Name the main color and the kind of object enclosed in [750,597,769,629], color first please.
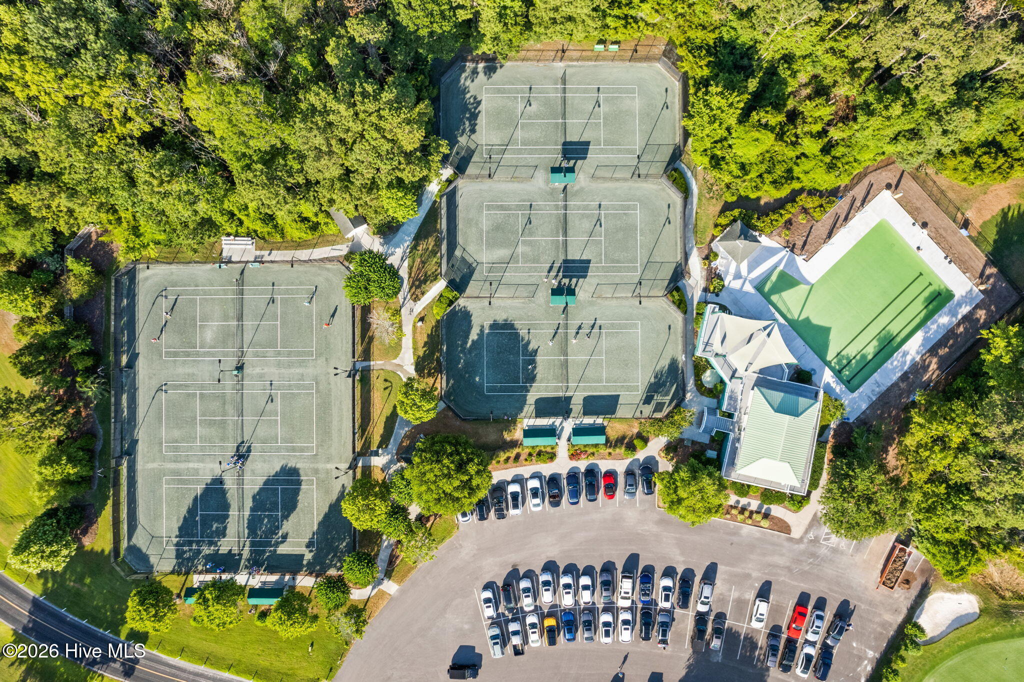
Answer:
white car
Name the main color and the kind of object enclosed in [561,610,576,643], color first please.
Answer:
blue car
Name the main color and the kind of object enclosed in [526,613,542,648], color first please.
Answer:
white car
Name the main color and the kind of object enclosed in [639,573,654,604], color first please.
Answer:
blue car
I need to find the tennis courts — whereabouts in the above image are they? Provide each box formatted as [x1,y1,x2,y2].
[125,262,354,370]
[441,179,683,297]
[125,370,352,465]
[443,297,685,419]
[441,63,681,179]
[125,465,353,572]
